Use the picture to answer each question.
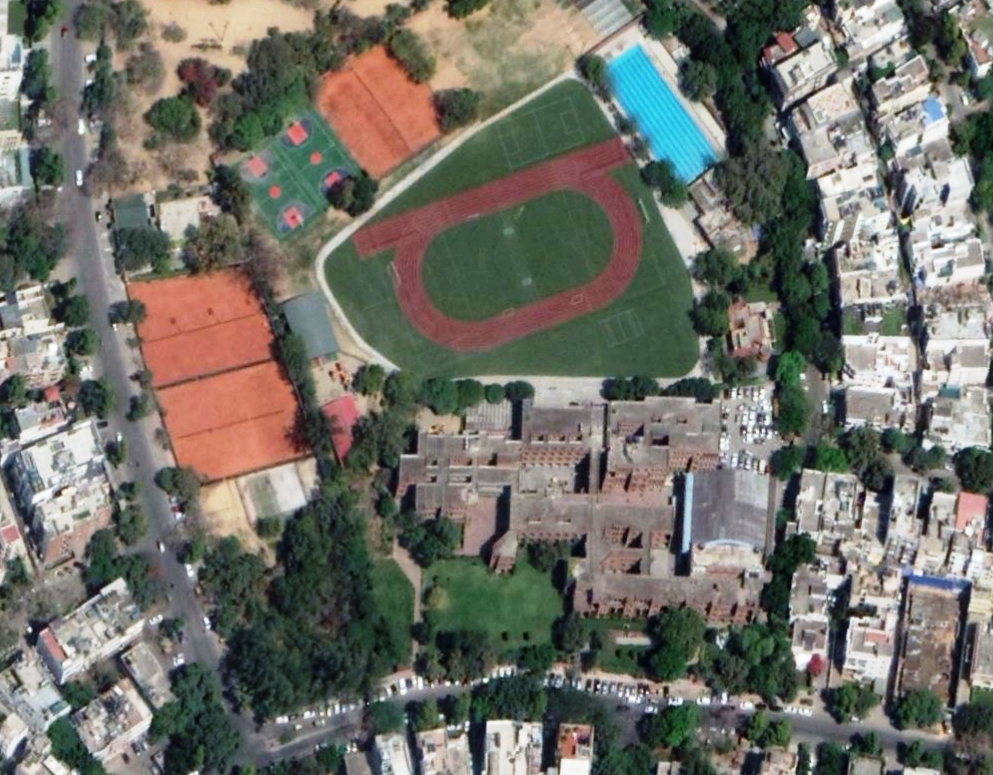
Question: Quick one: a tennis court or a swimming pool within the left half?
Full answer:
It is a tennis court that can be seen within the left half.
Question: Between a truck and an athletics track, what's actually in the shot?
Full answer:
The one in the frame is an athletics track.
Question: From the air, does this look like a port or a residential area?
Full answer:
This looks like a residential area.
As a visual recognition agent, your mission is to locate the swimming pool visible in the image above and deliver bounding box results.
[595,14,733,193]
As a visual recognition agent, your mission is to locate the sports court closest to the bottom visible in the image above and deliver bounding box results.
[239,464,303,524]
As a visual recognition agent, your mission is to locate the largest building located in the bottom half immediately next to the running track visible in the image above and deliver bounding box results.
[395,398,774,625]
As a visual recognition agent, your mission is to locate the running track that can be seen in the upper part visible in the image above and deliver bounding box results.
[352,137,643,347]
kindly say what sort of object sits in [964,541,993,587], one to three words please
house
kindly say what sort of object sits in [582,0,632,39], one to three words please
shed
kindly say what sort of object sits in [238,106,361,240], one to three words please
basketball court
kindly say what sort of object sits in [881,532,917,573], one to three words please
house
